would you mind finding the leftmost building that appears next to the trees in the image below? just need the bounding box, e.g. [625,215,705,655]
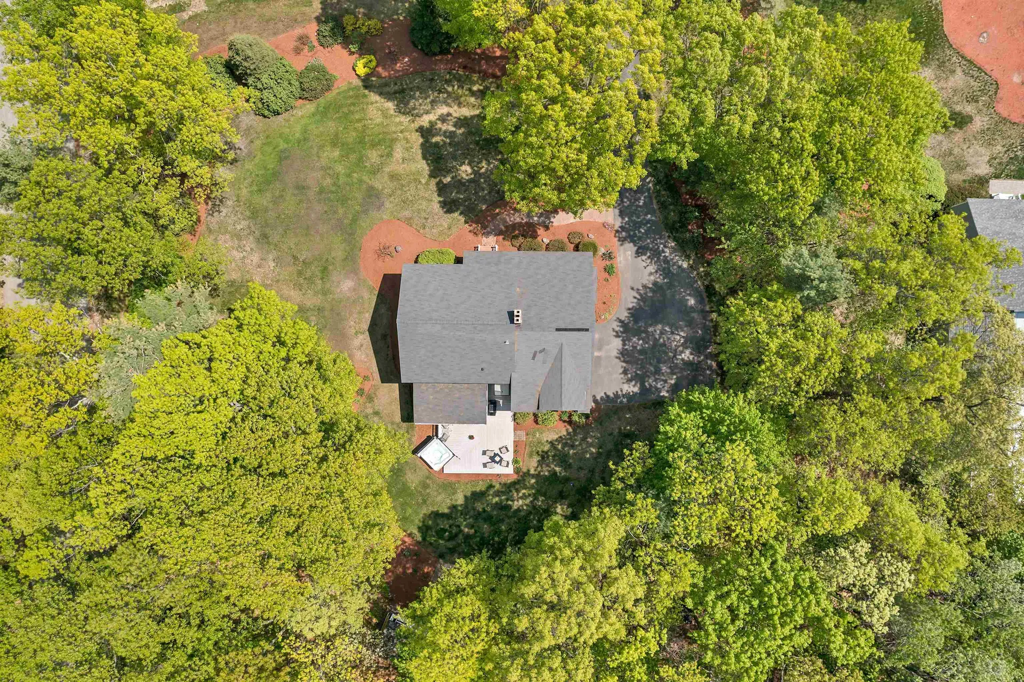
[395,251,597,426]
